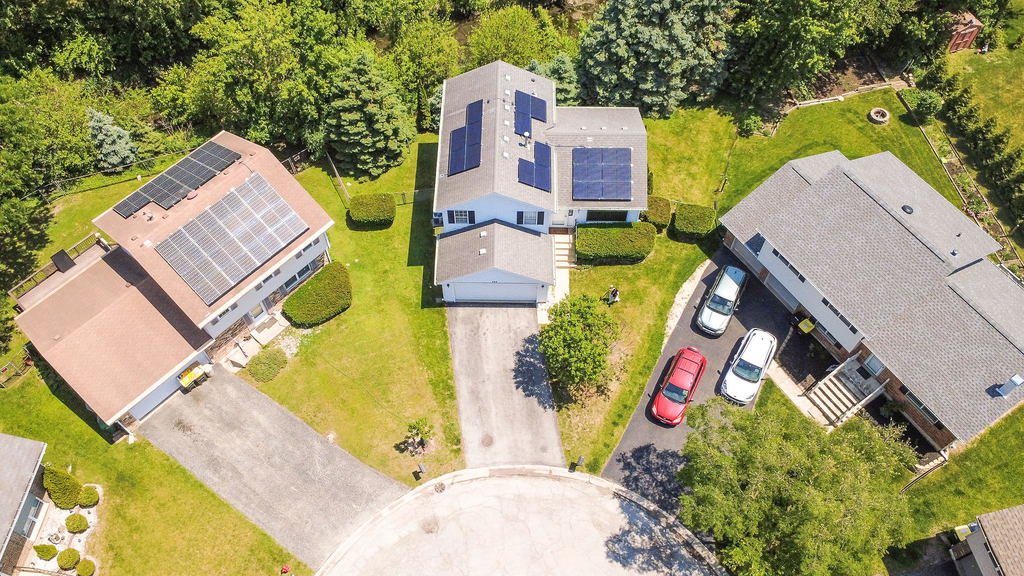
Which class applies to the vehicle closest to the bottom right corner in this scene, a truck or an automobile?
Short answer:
automobile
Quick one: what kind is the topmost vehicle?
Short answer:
car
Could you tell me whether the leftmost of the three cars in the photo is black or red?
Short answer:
red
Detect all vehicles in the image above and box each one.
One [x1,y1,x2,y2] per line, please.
[696,261,750,340]
[720,326,779,409]
[653,344,707,423]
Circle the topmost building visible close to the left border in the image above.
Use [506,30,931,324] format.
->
[7,132,336,450]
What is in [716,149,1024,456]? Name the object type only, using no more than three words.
house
